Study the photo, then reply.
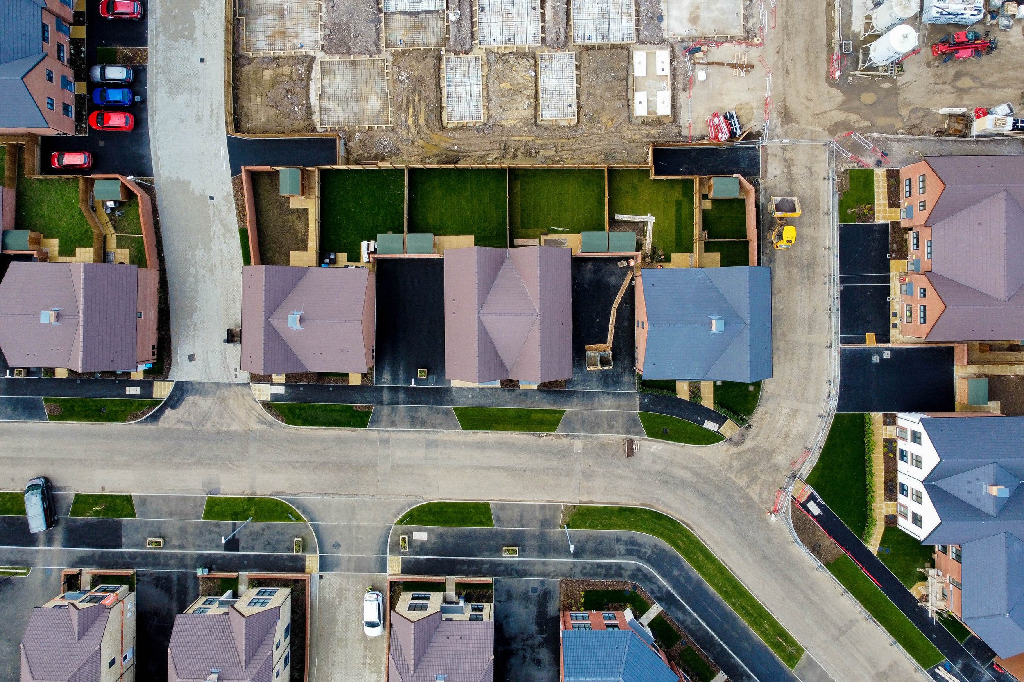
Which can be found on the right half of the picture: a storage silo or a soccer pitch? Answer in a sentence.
There is a storage silo on the right half of the picture.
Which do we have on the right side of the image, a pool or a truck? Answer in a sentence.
The feature located on the right side of the image is a truck.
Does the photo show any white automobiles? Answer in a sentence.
Yes, the frame does contain a white automobile.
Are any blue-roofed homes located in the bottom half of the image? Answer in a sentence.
Yes, a blue-roofed home shows up in the bottom half of the image.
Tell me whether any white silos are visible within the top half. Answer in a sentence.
Yes, a white silo is visible within the top half.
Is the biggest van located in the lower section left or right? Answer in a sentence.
The biggest van located in the lower section appears in the left half of the scene.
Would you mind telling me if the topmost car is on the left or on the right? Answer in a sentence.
It is on the left.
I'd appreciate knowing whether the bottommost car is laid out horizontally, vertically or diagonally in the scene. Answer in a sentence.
In this picture, the bottommost car is oriented vertically.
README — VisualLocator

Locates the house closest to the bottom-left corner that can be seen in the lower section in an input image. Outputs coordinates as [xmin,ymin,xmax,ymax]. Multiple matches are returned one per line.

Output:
[20,586,137,682]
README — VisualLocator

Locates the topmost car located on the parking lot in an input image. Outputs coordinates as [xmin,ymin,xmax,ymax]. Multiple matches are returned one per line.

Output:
[99,0,145,20]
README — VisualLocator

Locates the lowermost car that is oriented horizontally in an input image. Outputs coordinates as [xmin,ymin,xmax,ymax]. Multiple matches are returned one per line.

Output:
[51,149,95,170]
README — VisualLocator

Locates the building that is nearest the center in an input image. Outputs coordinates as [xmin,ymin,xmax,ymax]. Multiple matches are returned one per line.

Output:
[444,246,573,383]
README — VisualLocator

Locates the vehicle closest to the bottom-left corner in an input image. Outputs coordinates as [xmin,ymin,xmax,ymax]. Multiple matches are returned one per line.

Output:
[24,477,58,532]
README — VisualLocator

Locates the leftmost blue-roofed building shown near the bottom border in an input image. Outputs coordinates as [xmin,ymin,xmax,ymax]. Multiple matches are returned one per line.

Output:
[561,610,687,682]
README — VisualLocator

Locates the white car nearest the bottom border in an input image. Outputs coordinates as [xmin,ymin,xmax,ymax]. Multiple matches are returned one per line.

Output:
[362,590,383,636]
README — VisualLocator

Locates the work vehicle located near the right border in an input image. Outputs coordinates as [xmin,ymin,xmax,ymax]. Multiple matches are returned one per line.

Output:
[928,31,997,71]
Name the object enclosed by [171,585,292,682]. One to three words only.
house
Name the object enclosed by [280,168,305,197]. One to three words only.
shed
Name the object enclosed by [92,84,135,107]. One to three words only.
car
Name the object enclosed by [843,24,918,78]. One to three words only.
silo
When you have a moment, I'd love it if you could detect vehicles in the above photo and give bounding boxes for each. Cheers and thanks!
[51,149,95,170]
[24,477,58,532]
[362,590,383,636]
[92,84,135,107]
[928,31,997,71]
[99,0,145,20]
[767,197,801,251]
[89,108,136,132]
[90,62,136,85]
